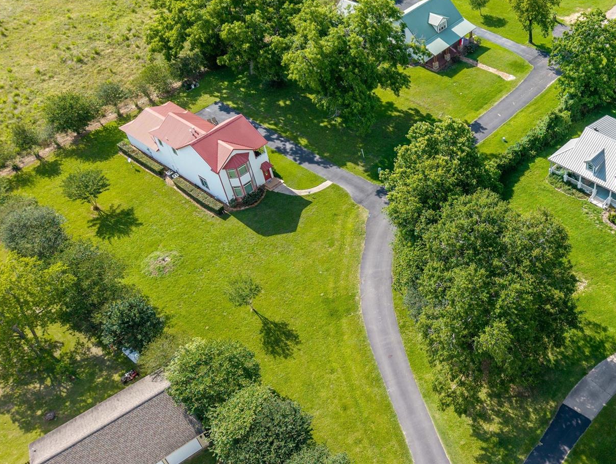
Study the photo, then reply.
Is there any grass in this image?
Yes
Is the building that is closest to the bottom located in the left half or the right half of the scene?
left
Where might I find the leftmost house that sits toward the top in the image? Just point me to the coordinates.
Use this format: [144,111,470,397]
[119,102,285,206]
